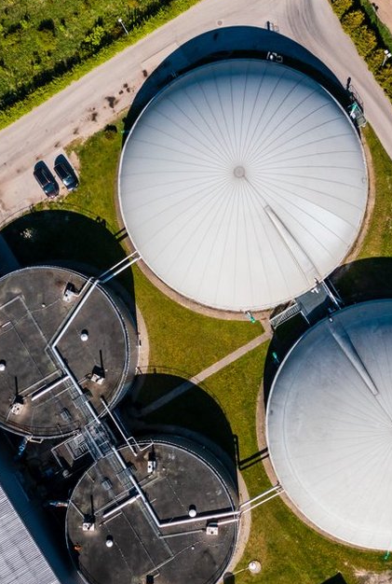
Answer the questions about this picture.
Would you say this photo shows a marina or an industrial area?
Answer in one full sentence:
What you see here is an industrial area.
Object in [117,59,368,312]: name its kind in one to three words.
storage tank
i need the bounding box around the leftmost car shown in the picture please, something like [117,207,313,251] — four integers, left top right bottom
[32,164,58,195]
